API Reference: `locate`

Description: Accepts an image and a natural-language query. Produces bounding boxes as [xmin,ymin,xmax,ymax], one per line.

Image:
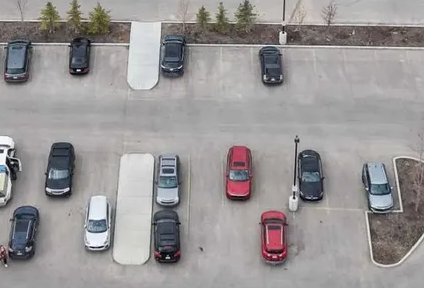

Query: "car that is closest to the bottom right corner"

[362,163,395,215]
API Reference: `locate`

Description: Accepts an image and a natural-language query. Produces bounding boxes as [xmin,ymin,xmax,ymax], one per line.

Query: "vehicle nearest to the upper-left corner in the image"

[4,42,34,84]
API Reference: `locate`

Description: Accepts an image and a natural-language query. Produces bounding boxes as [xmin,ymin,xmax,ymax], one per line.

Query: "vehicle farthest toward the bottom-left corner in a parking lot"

[9,209,41,260]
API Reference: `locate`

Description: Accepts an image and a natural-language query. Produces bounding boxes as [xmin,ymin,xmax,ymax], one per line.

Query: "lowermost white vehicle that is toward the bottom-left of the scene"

[83,199,113,250]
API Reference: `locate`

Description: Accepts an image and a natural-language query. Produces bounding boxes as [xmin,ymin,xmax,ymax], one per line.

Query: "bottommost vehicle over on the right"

[258,214,290,265]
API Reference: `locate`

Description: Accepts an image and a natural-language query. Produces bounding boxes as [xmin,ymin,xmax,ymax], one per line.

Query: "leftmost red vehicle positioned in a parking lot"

[224,149,254,201]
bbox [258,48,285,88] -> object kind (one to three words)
car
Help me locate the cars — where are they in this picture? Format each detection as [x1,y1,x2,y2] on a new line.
[362,163,395,215]
[297,152,326,202]
[224,149,254,201]
[160,38,187,79]
[258,48,285,88]
[4,42,34,84]
[152,155,183,207]
[43,140,75,197]
[152,213,184,265]
[9,209,41,260]
[66,37,93,78]
[83,199,113,250]
[258,214,290,265]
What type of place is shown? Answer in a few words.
parking lot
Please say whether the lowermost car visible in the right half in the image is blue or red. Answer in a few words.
red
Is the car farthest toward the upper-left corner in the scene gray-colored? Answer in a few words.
Yes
